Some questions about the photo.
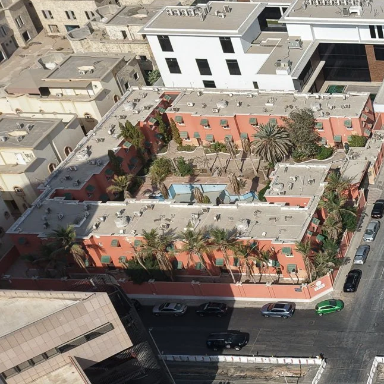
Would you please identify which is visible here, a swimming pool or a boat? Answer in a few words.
swimming pool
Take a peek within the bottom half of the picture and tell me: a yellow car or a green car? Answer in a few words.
green car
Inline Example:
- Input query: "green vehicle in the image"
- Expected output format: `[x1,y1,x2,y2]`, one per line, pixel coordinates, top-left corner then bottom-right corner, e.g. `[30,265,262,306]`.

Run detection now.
[313,300,346,316]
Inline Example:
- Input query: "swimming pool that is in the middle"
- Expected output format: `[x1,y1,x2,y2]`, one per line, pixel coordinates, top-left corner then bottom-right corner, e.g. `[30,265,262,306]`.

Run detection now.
[141,178,262,206]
